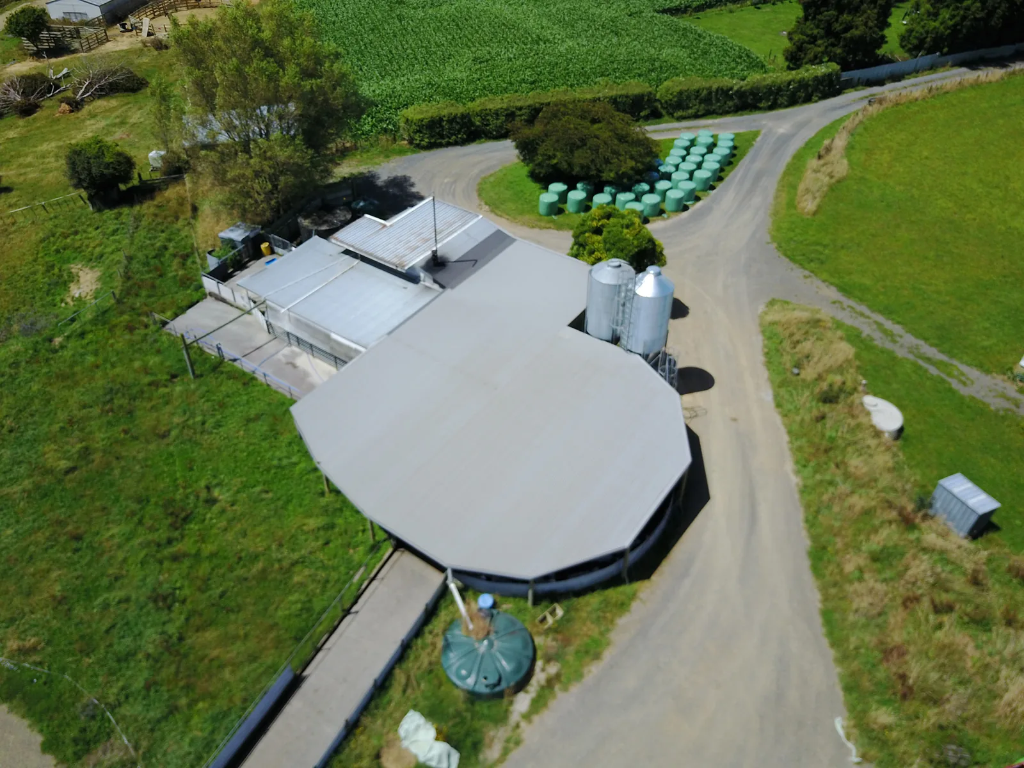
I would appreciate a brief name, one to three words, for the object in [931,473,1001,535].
shed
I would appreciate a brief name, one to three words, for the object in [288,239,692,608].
shed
